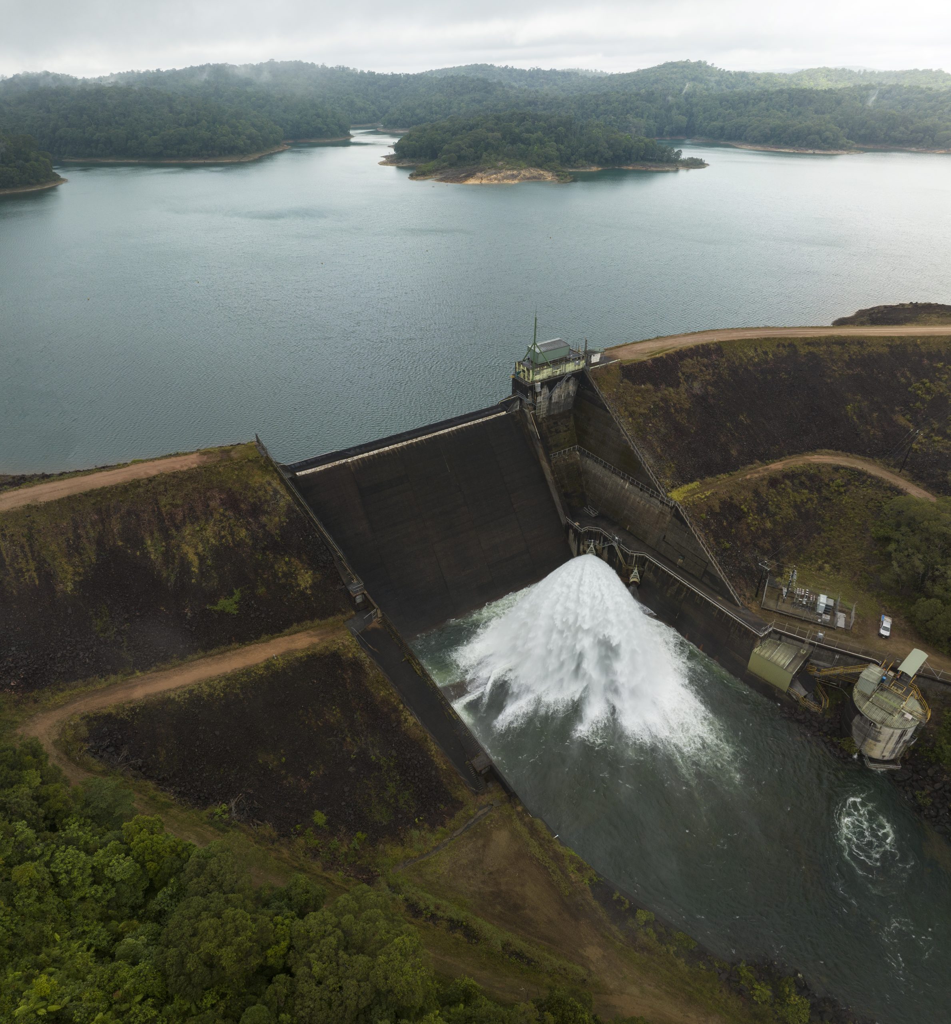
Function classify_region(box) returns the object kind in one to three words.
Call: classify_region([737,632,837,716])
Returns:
shed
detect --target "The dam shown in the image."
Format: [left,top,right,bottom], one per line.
[285,387,567,717]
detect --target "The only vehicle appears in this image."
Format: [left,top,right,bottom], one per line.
[877,613,894,640]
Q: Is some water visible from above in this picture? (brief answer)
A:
Yes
